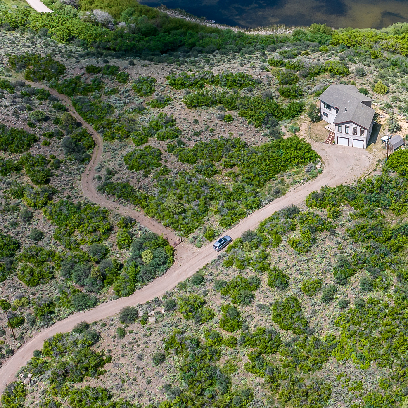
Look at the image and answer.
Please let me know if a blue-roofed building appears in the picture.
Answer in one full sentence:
No, the frame has no blue-roofed building in it.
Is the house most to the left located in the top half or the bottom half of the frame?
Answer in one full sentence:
The house most to the left is in the top half of the image.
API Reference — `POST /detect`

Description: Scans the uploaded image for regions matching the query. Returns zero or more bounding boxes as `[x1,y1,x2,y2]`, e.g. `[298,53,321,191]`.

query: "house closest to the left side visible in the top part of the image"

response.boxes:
[316,84,378,149]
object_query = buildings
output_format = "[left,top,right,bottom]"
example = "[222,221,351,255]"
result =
[385,133,407,151]
[316,84,378,149]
